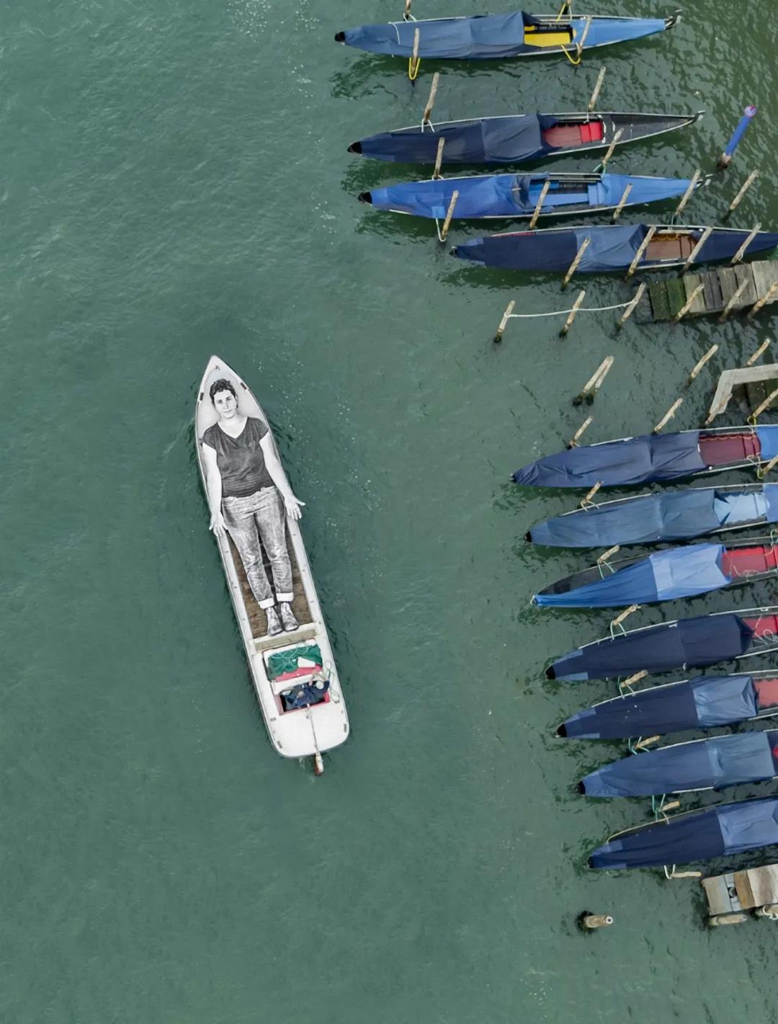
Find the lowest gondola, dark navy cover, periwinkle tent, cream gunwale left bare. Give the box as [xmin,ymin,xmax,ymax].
[586,788,778,868]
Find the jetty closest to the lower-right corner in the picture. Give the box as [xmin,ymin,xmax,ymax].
[702,862,778,915]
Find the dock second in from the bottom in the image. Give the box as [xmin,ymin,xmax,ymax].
[735,379,778,412]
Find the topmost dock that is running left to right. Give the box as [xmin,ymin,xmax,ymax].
[638,260,778,322]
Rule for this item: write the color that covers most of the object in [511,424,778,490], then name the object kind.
blue boat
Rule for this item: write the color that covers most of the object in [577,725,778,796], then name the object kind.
blue boat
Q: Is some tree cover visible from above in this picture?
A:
No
